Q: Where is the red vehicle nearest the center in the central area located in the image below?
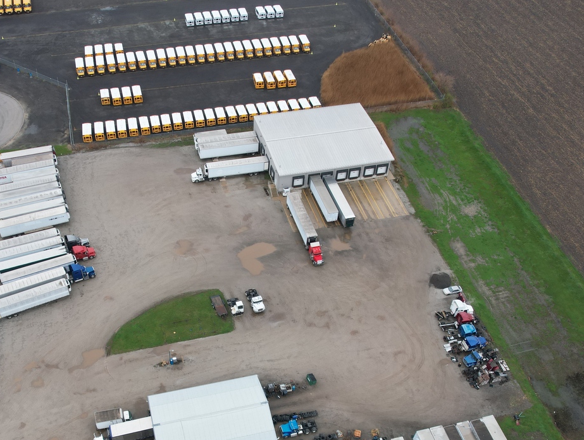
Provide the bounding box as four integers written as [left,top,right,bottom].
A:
[304,238,323,265]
